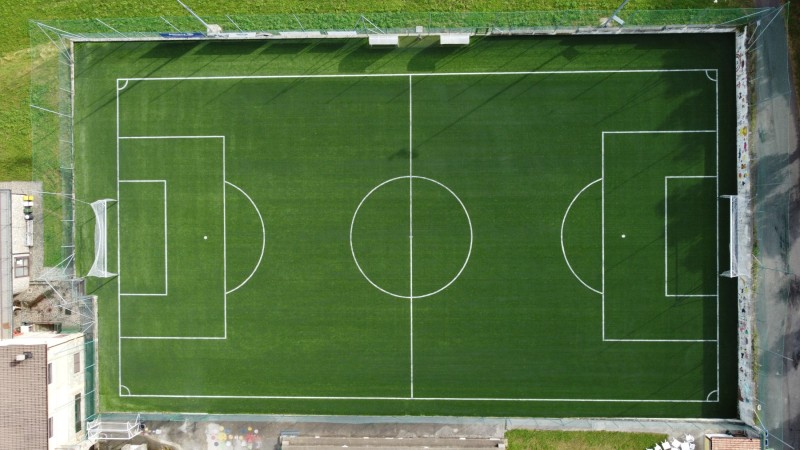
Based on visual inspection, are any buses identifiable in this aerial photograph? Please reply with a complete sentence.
No, the frame has no bus in it.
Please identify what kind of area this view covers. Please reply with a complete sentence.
This image shows a sports ground.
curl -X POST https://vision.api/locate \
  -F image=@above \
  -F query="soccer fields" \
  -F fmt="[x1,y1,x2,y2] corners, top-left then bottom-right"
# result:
[74,34,739,420]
